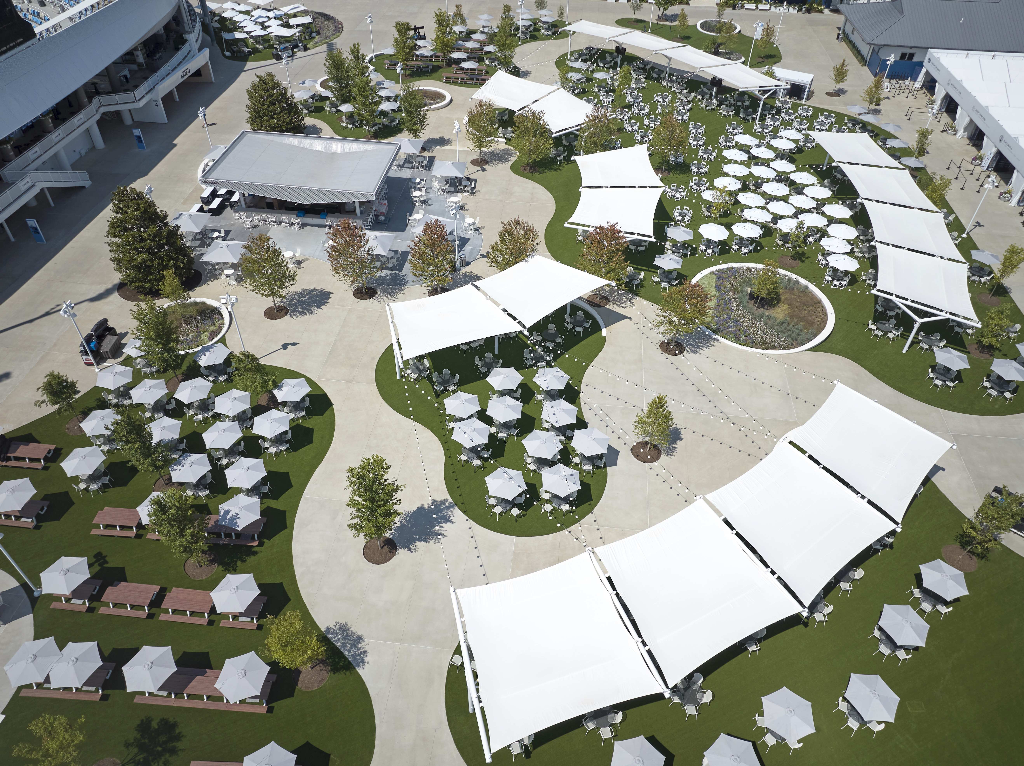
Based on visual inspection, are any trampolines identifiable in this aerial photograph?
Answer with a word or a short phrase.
No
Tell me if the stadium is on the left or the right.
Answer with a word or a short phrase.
left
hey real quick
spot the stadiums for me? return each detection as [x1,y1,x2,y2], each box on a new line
[0,0,214,242]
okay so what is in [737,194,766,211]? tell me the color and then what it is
white umbrella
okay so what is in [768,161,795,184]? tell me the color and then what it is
white umbrella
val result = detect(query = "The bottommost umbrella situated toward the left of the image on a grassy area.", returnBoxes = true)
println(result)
[249,739,302,766]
